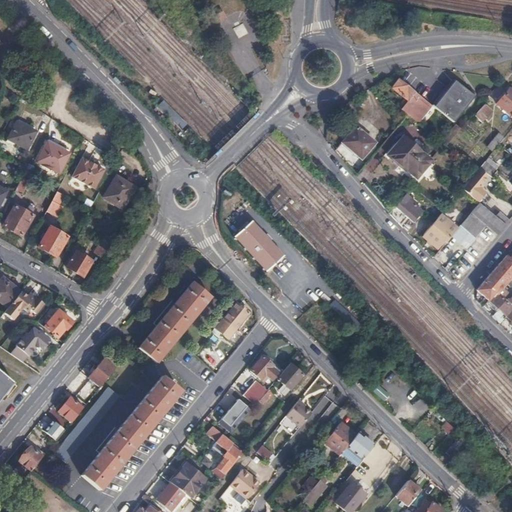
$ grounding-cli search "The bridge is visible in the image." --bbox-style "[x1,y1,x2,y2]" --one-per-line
[209,110,276,171]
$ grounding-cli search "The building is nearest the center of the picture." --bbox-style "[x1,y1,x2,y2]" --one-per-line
[235,221,285,274]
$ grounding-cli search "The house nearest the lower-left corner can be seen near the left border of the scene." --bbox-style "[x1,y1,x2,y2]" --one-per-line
[18,445,44,472]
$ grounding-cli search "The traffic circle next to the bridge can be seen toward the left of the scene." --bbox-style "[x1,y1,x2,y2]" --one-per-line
[158,170,216,226]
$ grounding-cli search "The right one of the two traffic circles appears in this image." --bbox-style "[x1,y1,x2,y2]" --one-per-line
[290,34,356,100]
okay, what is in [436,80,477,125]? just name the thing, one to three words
building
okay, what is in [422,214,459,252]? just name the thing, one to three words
house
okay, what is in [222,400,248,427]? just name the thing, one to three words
building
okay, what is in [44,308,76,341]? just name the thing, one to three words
house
